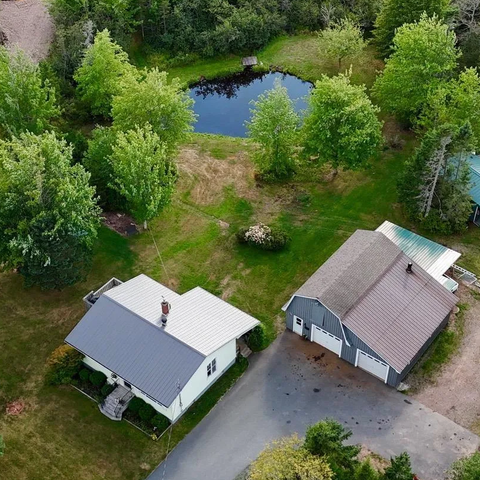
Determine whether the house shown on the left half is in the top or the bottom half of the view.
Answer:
bottom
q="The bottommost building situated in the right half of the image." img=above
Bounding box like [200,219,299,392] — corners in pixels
[281,231,458,387]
